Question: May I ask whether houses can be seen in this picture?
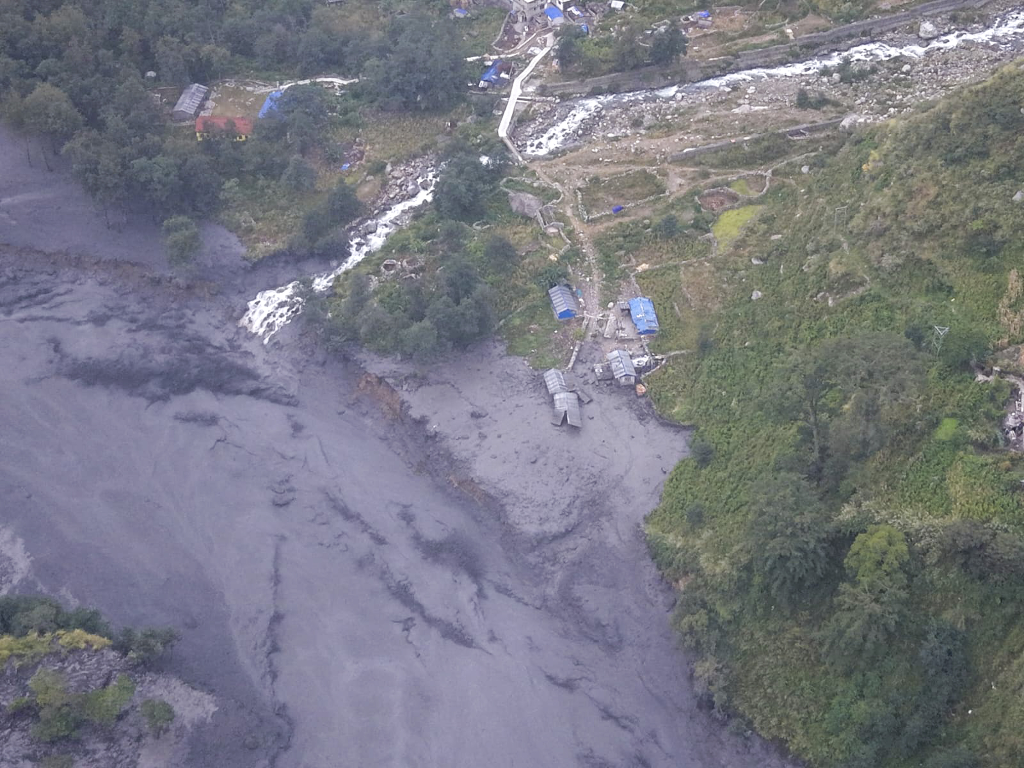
Yes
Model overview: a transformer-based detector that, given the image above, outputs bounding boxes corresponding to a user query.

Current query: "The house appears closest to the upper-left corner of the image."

[171,83,208,122]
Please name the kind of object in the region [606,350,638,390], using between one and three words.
shed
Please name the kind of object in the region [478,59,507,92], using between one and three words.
shed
